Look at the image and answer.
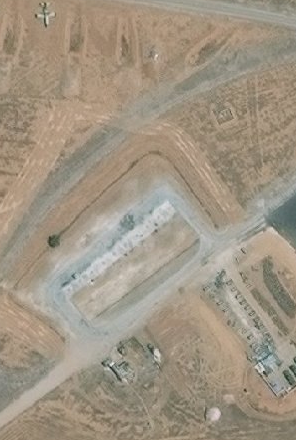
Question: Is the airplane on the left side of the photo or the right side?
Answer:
left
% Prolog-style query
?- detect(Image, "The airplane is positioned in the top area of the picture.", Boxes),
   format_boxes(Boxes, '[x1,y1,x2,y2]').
[36,2,56,26]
